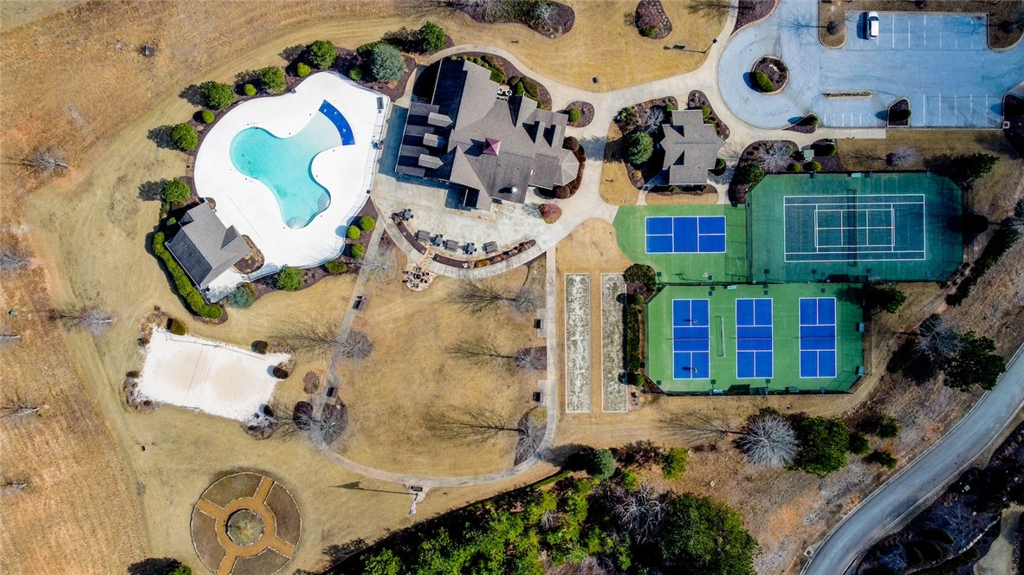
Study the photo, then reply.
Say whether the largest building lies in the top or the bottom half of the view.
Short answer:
top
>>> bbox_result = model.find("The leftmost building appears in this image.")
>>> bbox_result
[165,202,256,289]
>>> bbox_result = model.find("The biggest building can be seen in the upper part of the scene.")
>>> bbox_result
[395,59,579,211]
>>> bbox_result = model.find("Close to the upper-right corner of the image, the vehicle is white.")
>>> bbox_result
[867,9,883,38]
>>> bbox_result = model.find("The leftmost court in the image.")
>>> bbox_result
[136,325,291,421]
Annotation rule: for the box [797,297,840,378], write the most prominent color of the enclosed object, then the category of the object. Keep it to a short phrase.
blue sports court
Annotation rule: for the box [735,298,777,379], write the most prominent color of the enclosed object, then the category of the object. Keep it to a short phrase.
blue sports court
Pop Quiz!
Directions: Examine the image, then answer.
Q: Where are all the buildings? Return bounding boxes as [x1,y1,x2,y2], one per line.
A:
[165,202,256,289]
[659,110,726,187]
[395,59,579,211]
